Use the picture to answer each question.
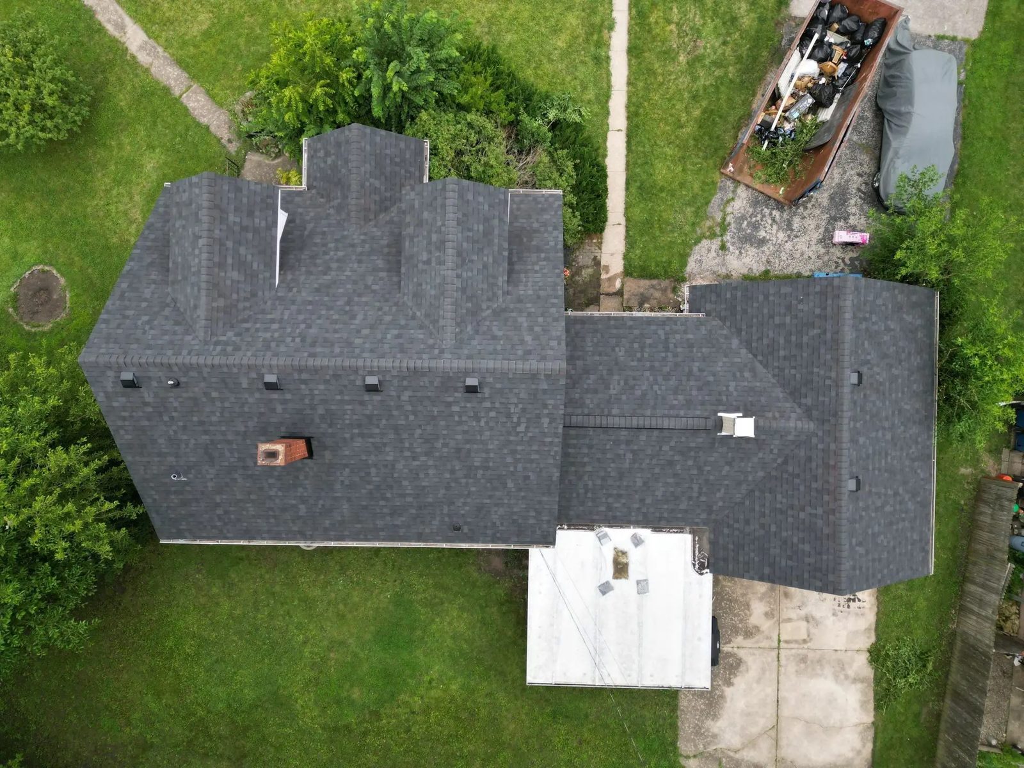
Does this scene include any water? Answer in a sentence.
No, water can't be seen anywhere here.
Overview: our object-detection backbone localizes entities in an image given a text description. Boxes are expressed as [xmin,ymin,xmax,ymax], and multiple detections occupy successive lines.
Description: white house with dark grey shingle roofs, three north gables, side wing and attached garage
[80,124,942,595]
